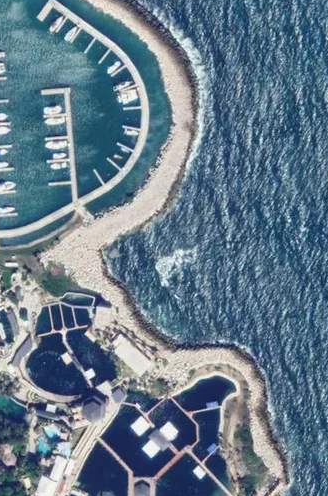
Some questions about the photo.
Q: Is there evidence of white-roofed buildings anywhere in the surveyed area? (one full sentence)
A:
Yes, I can see a white-roofed building in this picture.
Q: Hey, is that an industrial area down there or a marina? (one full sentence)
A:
It's a marina.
